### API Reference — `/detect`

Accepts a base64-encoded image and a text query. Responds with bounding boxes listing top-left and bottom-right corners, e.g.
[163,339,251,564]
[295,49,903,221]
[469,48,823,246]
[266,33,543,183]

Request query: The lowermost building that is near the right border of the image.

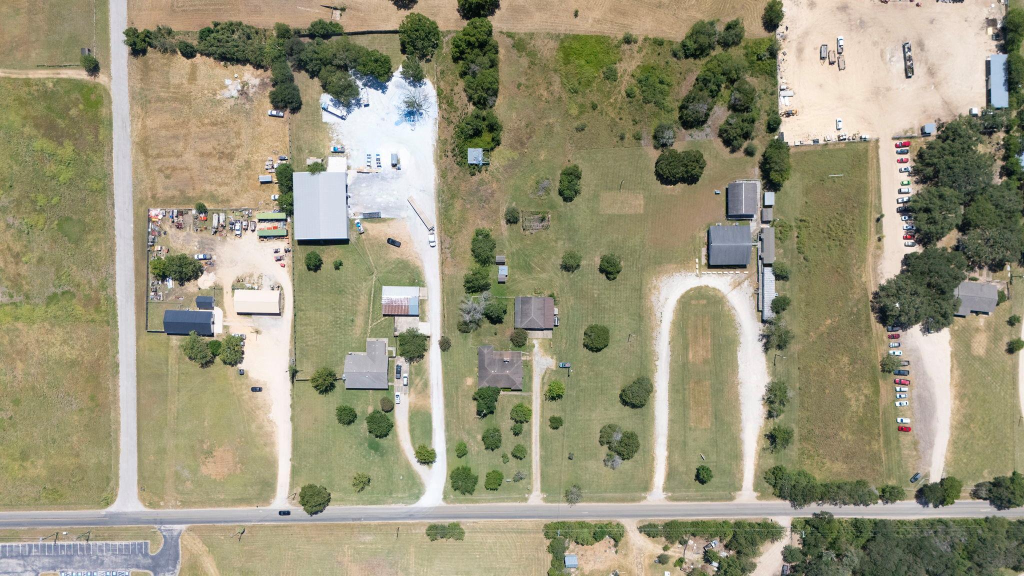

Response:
[953,284,999,314]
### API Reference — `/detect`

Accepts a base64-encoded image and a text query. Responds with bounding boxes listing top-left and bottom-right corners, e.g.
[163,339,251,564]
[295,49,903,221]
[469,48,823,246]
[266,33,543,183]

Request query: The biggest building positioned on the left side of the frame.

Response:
[293,171,352,240]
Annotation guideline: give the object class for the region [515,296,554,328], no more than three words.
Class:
house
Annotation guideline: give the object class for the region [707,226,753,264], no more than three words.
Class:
building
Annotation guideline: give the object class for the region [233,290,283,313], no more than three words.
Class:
building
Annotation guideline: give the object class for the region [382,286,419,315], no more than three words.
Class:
barn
